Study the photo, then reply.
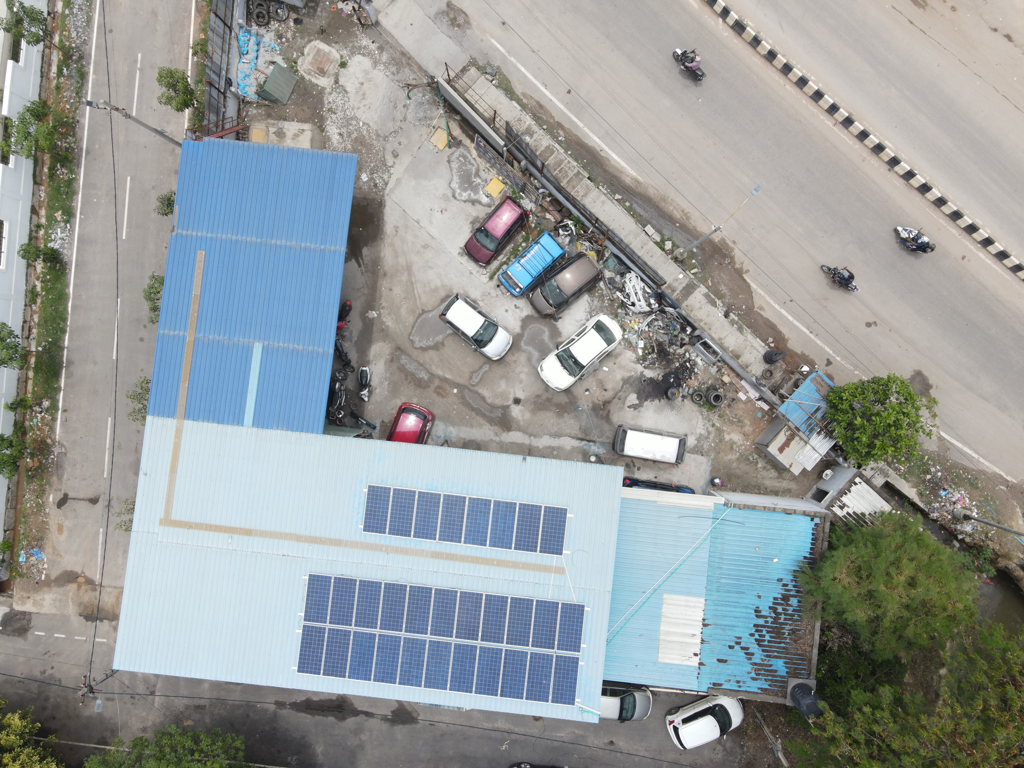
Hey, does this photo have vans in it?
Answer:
Yes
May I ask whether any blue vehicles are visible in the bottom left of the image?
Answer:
No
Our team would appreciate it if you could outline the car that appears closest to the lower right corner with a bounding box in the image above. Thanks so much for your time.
[664,694,744,754]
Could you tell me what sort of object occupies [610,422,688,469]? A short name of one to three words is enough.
van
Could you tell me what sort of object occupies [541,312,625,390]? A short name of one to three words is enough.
car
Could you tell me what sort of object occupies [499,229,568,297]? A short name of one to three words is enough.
van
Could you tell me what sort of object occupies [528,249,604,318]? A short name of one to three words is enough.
car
